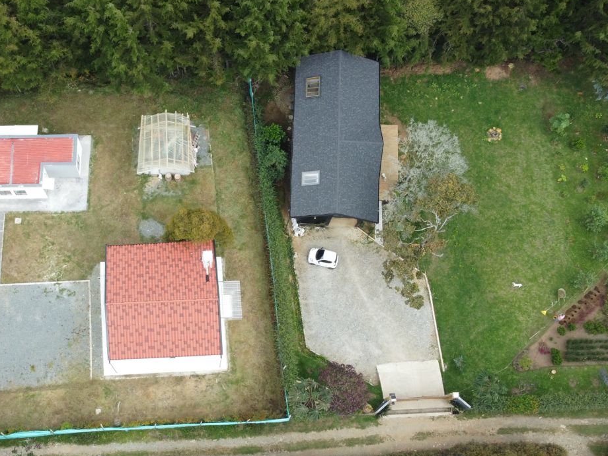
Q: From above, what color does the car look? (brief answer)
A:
white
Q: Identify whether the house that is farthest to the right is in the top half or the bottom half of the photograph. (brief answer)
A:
top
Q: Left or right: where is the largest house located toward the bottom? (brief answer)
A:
left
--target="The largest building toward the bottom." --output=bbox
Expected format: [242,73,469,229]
[103,239,224,364]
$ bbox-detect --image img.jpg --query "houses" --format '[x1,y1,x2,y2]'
[0,125,82,198]
[103,239,224,364]
[290,50,384,232]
